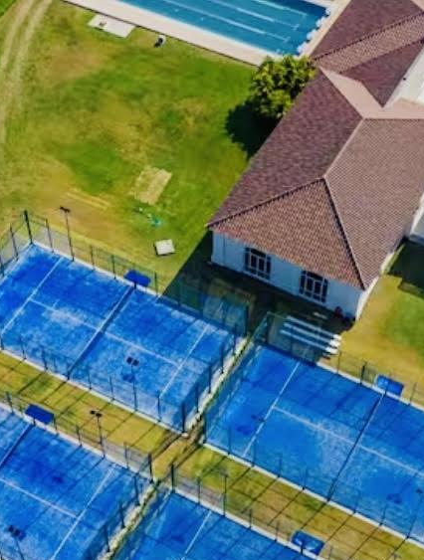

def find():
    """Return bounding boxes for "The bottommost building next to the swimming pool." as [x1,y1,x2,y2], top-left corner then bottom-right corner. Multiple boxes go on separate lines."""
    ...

[205,68,424,317]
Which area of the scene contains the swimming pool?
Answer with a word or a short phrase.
top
